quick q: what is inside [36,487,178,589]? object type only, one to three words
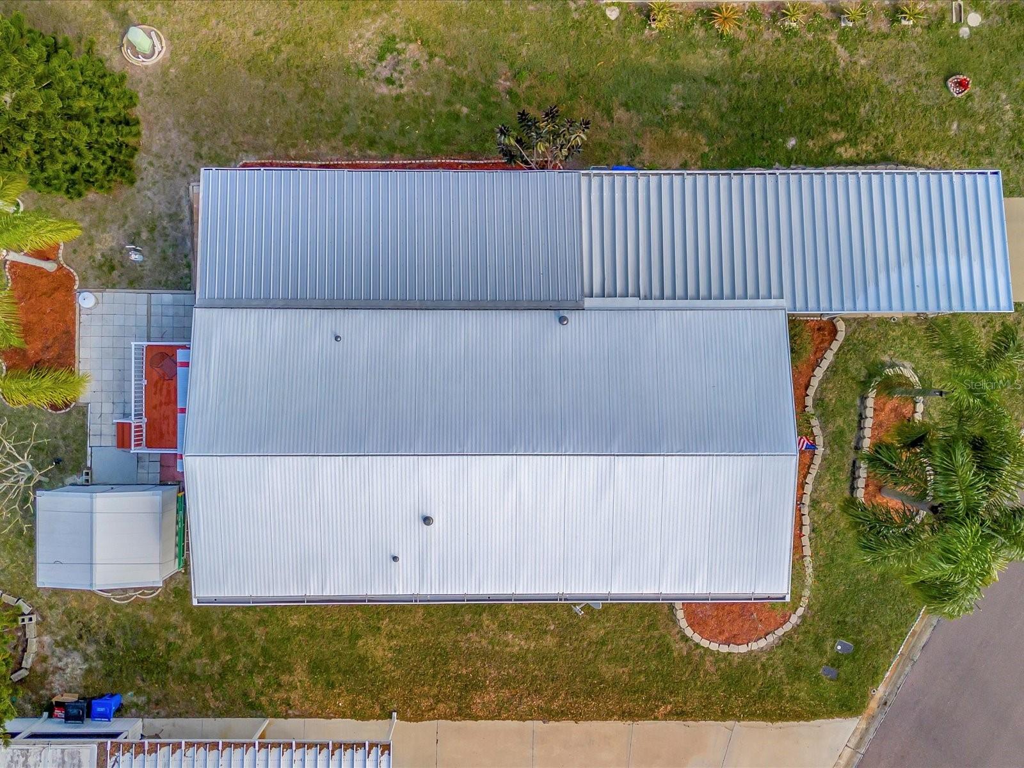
shed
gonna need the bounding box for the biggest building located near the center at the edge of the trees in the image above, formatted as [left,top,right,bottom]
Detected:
[176,298,799,603]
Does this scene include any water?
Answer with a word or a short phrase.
No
